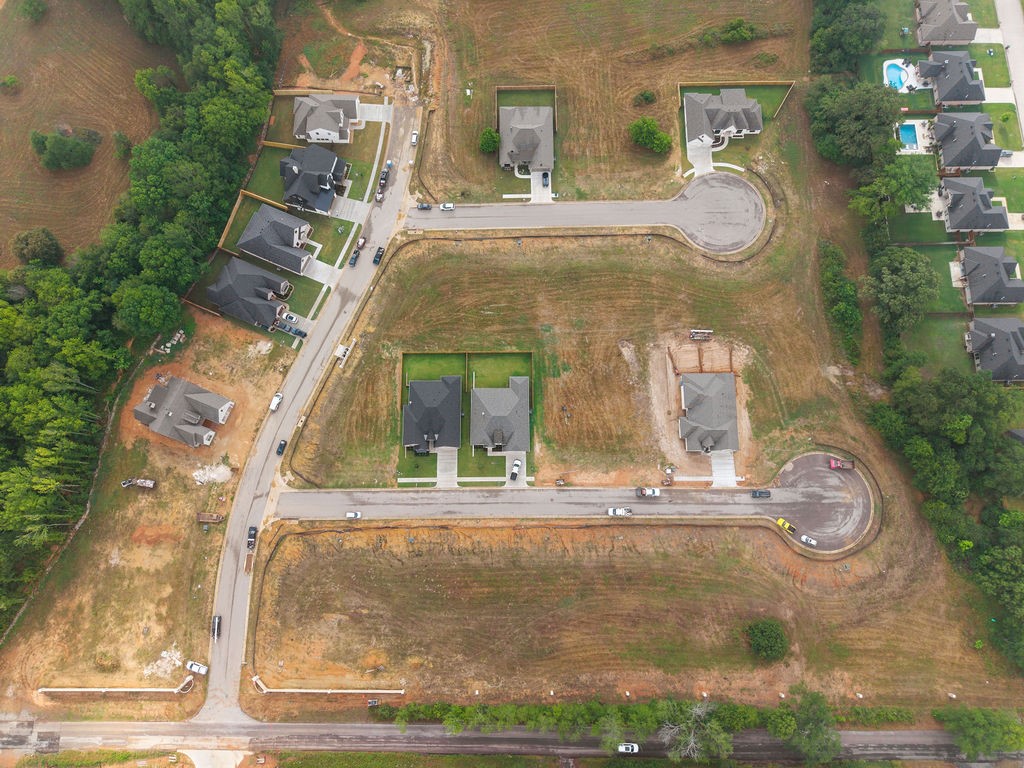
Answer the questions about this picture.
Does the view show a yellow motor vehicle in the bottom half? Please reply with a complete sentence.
Yes, in the bottom half there is a yellow motor vehicle.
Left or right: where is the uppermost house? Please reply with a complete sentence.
The uppermost house is on the right side of the image.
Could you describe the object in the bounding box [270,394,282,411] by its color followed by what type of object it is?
white vehicle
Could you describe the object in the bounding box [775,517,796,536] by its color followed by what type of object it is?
yellow vehicle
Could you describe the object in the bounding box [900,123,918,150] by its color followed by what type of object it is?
blue swimming pool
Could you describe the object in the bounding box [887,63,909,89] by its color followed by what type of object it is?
blue swimming pool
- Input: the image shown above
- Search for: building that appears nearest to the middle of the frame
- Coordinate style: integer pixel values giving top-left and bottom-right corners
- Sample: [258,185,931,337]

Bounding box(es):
[470,376,530,451]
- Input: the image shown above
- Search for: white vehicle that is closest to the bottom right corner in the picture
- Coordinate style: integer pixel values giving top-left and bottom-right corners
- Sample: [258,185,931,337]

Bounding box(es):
[799,533,817,548]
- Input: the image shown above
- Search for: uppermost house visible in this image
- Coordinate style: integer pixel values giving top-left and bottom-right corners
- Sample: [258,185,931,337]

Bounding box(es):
[913,0,977,47]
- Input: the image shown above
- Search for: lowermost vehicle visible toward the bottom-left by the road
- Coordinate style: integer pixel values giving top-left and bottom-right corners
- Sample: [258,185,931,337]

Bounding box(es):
[187,659,210,675]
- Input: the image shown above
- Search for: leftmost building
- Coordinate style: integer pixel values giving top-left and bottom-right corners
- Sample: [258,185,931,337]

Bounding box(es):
[129,376,237,448]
